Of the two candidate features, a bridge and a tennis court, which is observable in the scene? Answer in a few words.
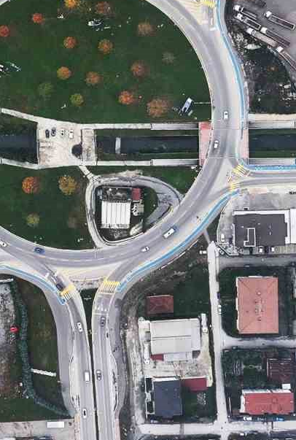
bridge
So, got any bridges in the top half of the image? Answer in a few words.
Yes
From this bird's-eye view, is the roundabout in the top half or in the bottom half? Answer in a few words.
top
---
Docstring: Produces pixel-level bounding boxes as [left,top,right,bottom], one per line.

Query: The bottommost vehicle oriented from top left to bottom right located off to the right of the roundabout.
[276,46,296,70]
